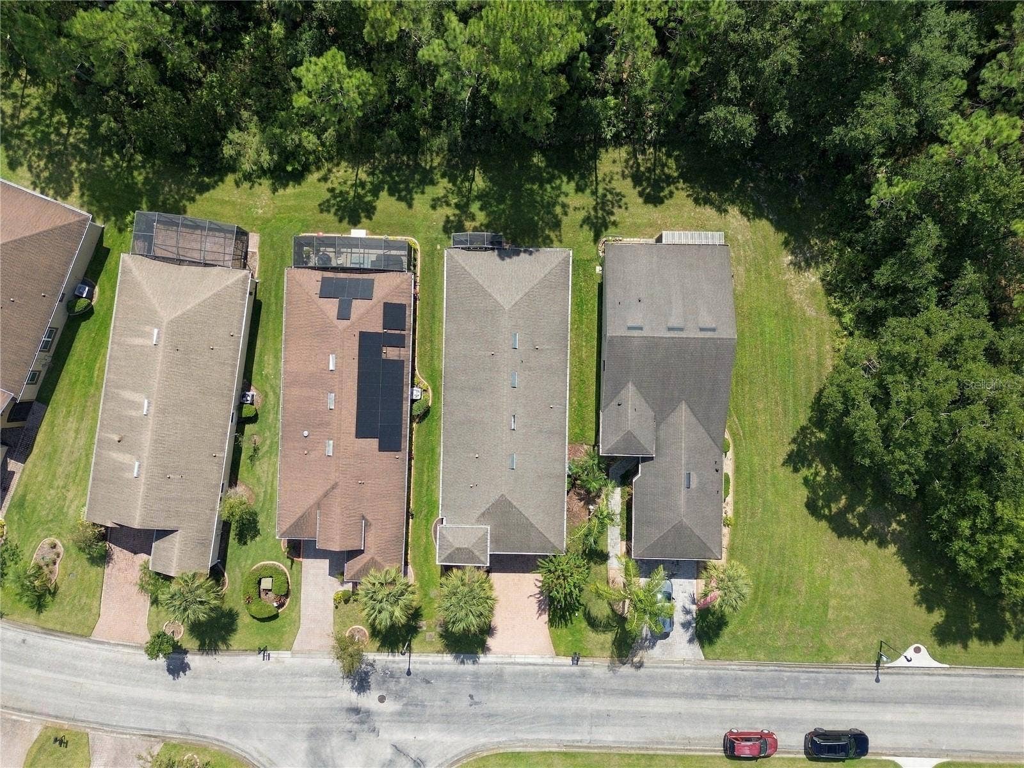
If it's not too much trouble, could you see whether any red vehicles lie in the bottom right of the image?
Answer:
Yes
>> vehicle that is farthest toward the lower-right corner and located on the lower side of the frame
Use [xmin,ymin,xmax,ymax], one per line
[805,728,871,764]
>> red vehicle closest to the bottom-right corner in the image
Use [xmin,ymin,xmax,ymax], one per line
[723,729,781,763]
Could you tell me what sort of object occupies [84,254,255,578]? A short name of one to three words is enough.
house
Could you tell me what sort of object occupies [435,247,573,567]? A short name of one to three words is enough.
house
